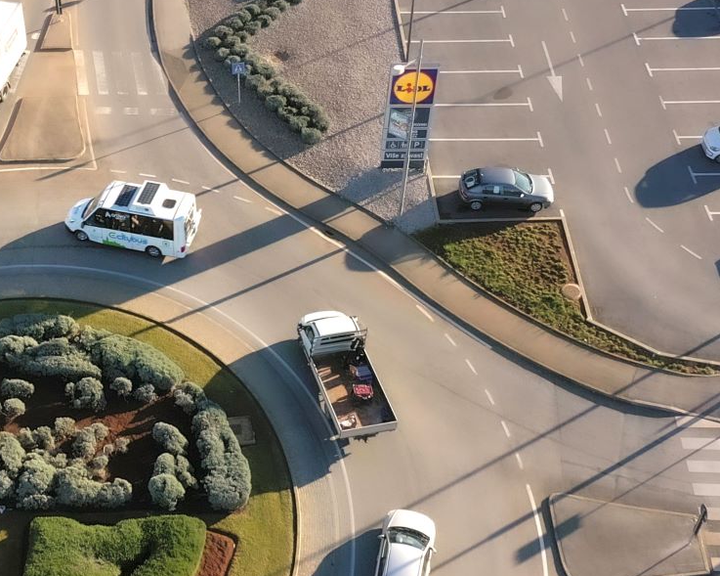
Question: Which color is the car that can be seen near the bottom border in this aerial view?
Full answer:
In this view, the car that can be seen near the bottom border is white.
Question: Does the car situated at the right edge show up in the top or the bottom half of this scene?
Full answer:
The car situated at the right edge is in the top half of the image.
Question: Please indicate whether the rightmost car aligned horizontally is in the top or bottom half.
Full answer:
The rightmost car aligned horizontally is in the top half of the image.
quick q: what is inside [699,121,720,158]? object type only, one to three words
car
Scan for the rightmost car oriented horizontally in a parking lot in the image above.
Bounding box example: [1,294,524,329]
[457,165,555,212]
